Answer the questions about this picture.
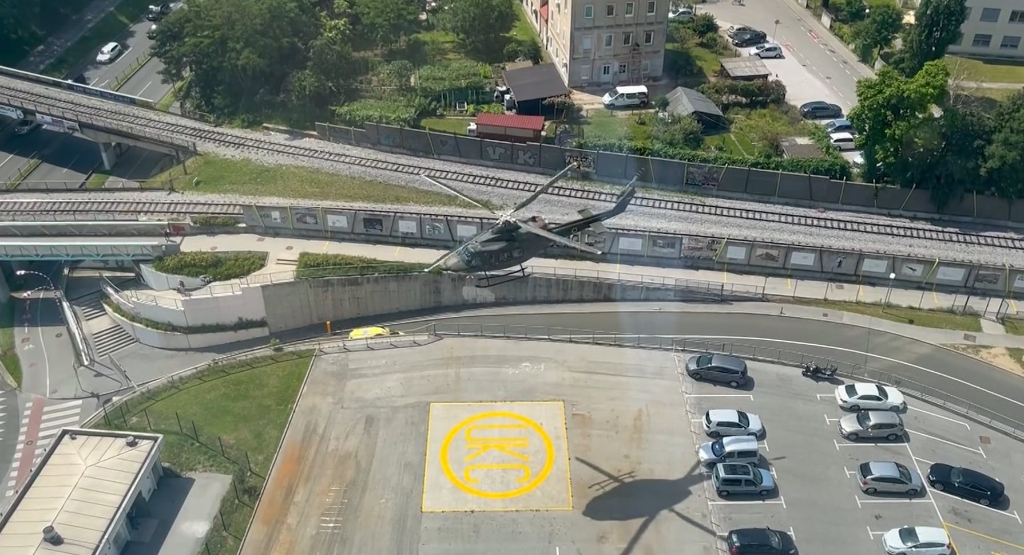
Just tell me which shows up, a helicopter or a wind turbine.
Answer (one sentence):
Looking from above, you can make out a helicopter.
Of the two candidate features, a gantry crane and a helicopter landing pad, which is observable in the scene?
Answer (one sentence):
I can see a helicopter landing pad in this picture.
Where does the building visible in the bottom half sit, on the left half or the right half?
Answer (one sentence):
The building visible in the bottom half sits on the left side.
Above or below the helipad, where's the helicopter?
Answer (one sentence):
Looking at the photo, you'll find the helicopter above the helipad.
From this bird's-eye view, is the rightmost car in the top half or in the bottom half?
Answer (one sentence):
It is in the bottom half that the rightmost car appears.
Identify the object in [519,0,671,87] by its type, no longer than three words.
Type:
house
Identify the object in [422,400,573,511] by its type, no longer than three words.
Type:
helipad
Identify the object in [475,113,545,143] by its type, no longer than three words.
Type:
shed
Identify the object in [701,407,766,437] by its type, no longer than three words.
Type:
car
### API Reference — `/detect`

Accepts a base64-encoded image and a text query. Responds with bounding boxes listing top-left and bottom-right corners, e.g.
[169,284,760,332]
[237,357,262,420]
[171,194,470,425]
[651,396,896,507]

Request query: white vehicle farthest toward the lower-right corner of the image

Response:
[879,525,954,555]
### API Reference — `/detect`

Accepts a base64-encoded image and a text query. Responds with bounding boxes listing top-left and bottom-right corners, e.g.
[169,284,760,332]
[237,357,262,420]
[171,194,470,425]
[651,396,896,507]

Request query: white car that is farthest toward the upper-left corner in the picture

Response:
[95,41,122,64]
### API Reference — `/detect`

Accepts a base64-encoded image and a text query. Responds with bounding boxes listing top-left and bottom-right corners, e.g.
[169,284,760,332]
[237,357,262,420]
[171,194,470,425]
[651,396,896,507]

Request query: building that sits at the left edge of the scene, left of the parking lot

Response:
[0,425,167,555]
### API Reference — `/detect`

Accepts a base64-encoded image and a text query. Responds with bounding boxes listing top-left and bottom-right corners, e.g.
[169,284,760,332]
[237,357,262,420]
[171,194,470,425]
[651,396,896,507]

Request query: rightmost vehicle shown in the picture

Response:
[926,462,1007,506]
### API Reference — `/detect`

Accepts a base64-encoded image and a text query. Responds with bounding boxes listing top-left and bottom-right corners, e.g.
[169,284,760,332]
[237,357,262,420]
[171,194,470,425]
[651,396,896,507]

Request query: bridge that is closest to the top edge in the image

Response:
[0,64,197,170]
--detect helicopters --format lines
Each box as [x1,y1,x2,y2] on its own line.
[415,156,640,290]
